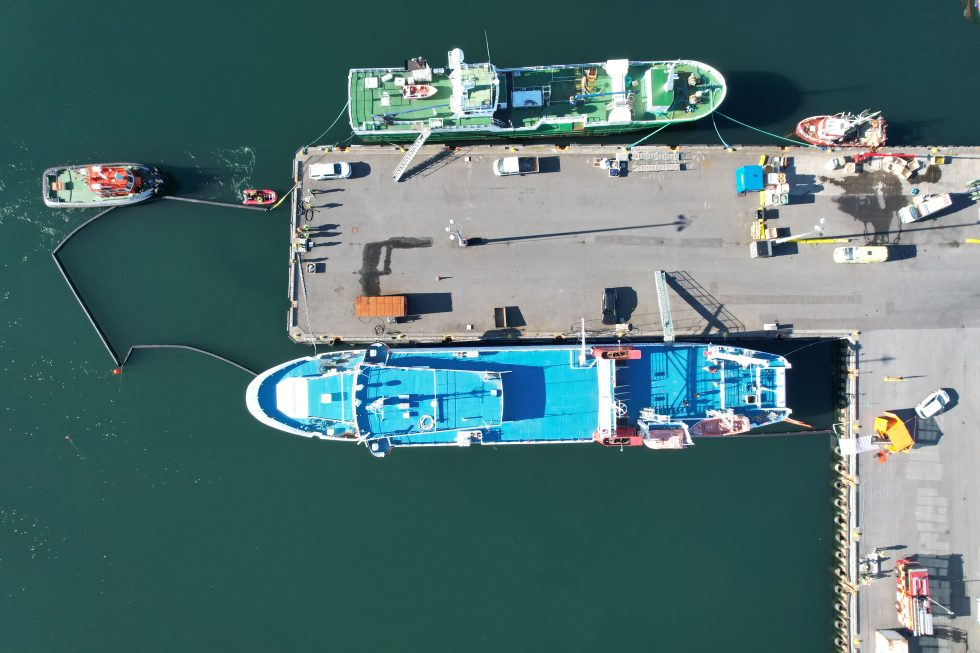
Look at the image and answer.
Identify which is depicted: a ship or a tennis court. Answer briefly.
ship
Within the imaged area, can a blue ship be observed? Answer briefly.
Yes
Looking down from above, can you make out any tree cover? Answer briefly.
No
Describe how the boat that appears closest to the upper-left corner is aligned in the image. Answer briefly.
horizontally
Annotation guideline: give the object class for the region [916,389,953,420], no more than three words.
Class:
car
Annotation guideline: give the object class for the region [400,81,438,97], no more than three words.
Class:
boat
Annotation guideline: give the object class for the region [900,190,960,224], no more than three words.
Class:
truck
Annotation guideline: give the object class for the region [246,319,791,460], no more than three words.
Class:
ship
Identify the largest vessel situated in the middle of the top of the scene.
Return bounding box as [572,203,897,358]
[346,31,727,146]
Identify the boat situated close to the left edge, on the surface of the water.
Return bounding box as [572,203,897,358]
[42,161,171,210]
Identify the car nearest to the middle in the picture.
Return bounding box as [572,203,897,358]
[602,287,621,325]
